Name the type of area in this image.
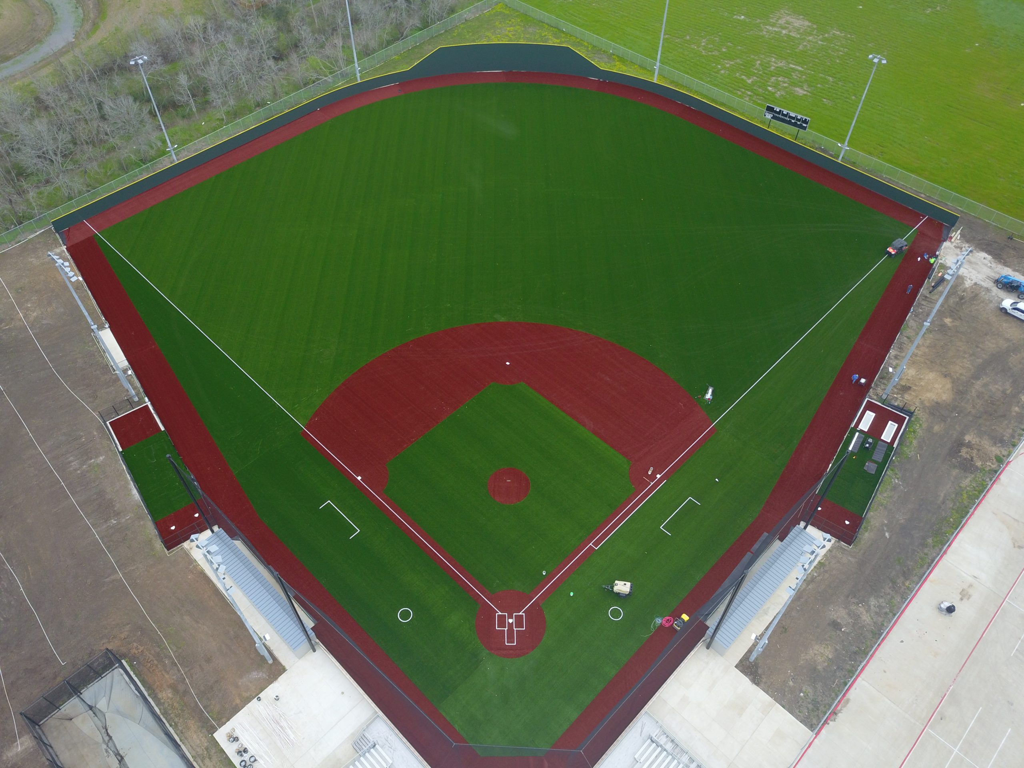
sports ground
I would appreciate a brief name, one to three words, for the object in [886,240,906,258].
vehicle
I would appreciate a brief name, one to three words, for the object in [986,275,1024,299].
work vehicle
